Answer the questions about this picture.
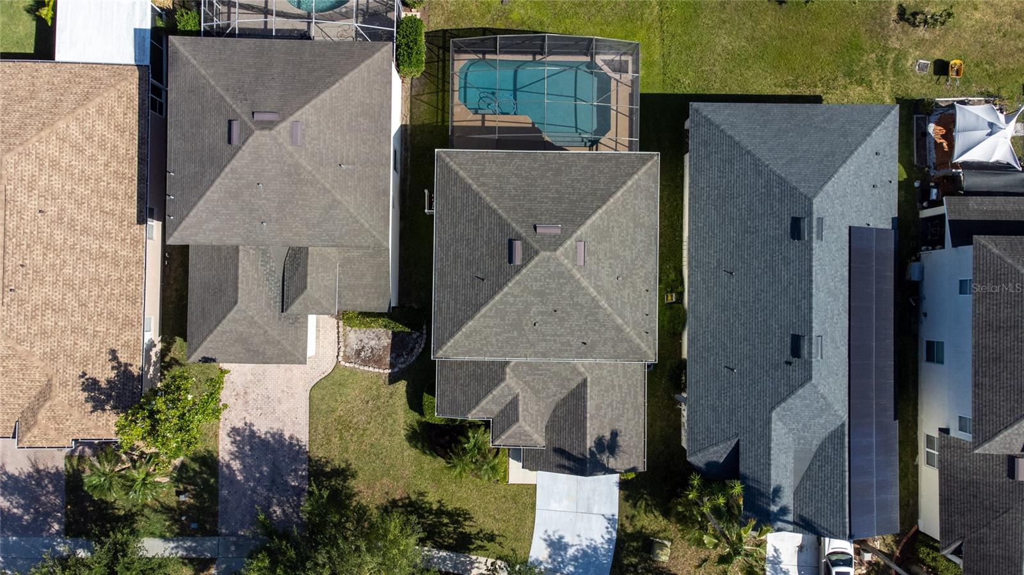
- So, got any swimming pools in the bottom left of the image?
No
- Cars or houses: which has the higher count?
houses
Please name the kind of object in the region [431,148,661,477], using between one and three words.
house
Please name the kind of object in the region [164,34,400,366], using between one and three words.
house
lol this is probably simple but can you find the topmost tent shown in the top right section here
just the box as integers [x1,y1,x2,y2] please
[919,102,1024,175]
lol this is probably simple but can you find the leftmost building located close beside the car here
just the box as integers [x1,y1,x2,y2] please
[682,101,900,540]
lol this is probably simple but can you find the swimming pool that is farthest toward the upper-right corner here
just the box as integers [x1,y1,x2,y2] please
[455,57,616,150]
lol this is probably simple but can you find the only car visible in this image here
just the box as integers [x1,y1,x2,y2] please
[816,537,861,575]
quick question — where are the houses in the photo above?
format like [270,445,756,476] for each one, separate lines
[682,101,900,540]
[431,148,661,477]
[0,57,161,450]
[919,193,1024,575]
[164,34,400,366]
